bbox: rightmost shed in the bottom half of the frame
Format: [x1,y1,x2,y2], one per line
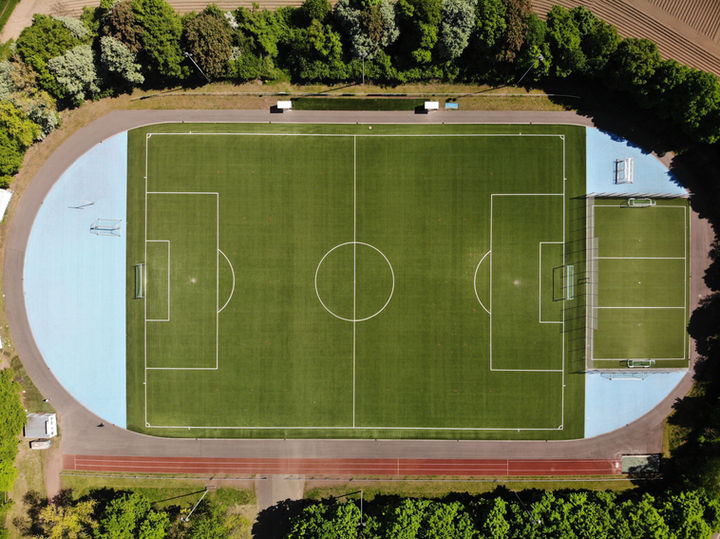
[25,413,57,439]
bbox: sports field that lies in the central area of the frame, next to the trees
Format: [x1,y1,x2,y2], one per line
[127,123,586,441]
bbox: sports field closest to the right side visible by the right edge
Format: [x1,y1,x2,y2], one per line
[586,193,691,373]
